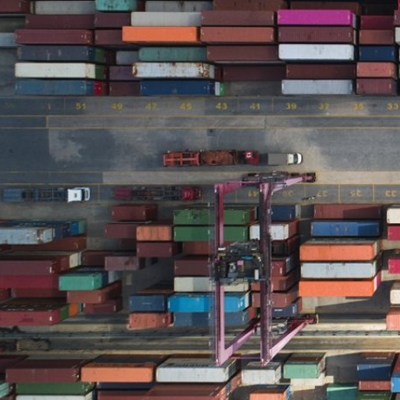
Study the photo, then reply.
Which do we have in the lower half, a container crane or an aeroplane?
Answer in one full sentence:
Looking in the lower half, you will find a container crane.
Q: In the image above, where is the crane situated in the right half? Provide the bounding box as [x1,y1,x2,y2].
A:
[210,166,314,366]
